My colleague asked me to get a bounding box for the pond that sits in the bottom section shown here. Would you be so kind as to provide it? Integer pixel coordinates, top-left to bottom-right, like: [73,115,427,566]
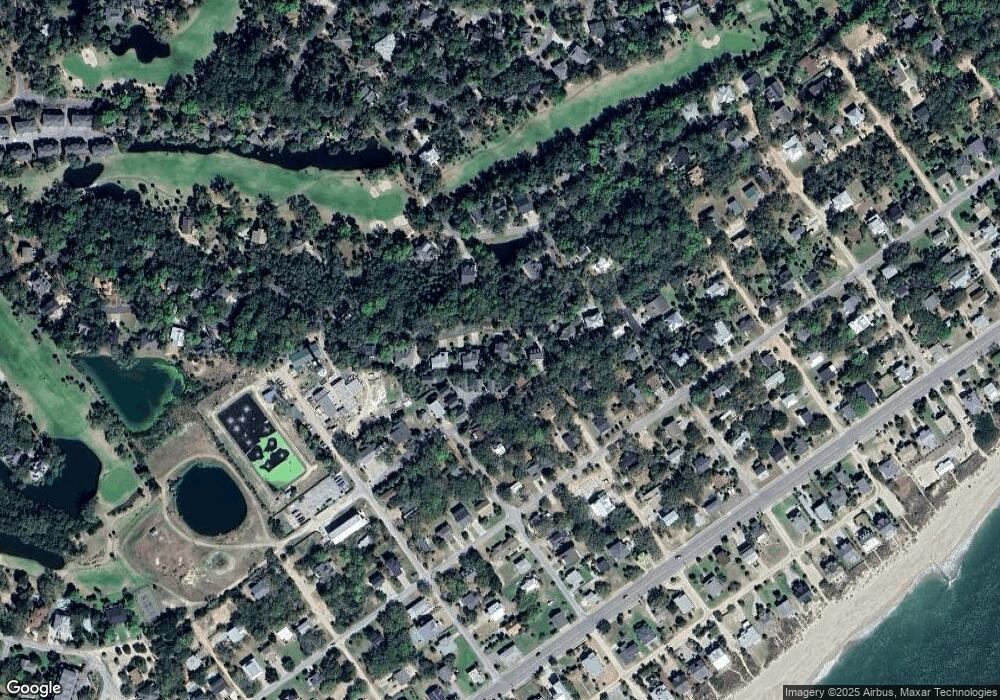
[219,393,305,490]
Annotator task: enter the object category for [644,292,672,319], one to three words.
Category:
house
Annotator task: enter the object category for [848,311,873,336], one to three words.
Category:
house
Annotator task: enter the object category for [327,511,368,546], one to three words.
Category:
building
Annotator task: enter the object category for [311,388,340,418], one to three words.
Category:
shed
